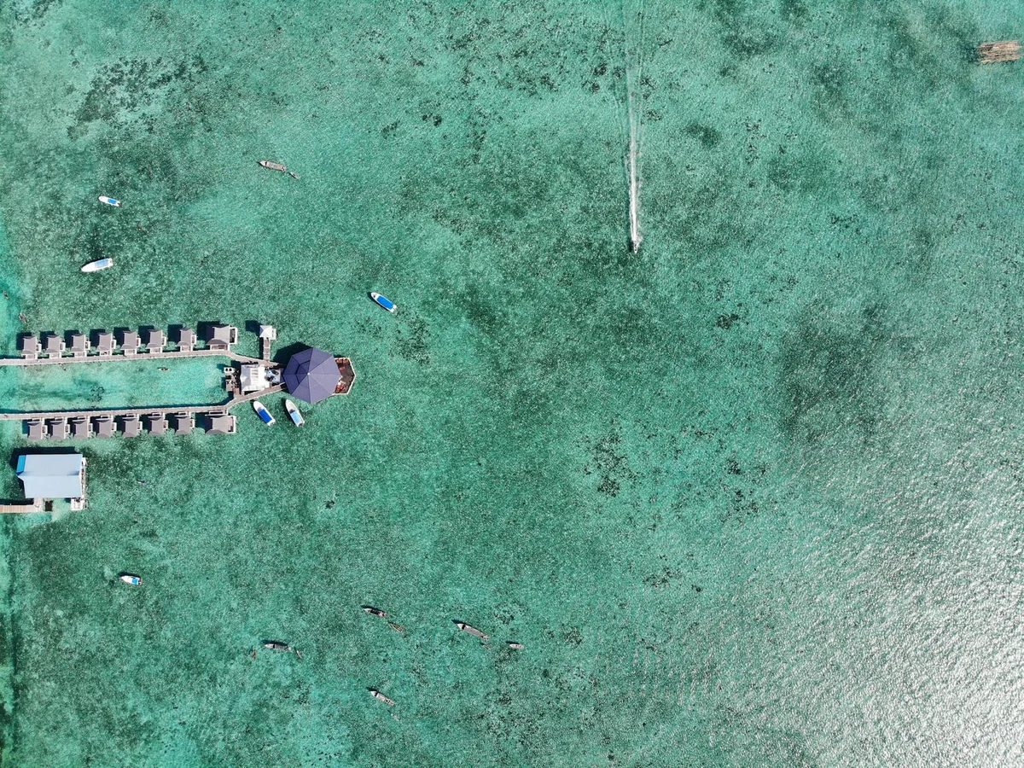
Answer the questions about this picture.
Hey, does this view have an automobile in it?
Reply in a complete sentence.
No, no automobile is visible in the view.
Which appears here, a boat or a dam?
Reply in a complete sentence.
The one in the frame is a boat.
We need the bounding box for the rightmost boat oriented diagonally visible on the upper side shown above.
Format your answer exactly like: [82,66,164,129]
[370,291,396,312]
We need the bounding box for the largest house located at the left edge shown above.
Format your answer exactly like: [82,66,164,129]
[15,454,94,510]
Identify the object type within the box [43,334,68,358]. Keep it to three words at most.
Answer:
house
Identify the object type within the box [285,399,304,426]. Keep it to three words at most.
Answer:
boat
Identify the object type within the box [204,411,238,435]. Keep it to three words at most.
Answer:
house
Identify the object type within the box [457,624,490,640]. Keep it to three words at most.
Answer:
boat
